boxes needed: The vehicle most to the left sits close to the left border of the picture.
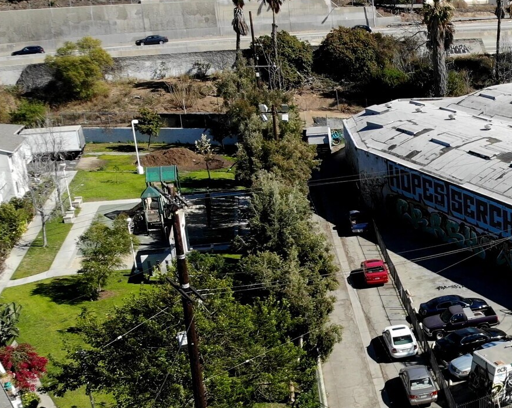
[8,41,46,57]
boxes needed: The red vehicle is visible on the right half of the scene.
[359,254,388,281]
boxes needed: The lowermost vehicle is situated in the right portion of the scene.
[395,364,437,403]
